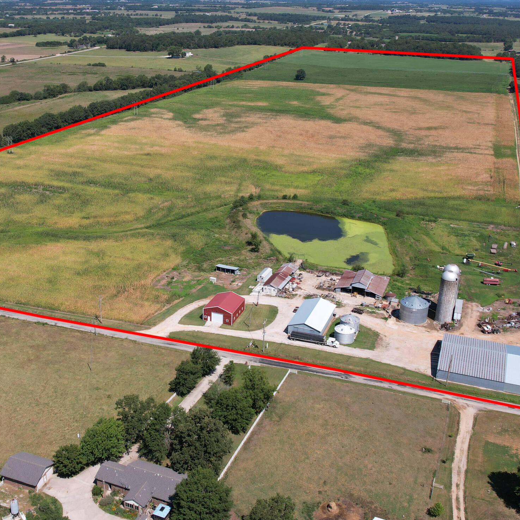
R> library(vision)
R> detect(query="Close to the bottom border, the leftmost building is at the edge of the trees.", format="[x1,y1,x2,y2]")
[0,461,54,497]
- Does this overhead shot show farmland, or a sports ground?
farmland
